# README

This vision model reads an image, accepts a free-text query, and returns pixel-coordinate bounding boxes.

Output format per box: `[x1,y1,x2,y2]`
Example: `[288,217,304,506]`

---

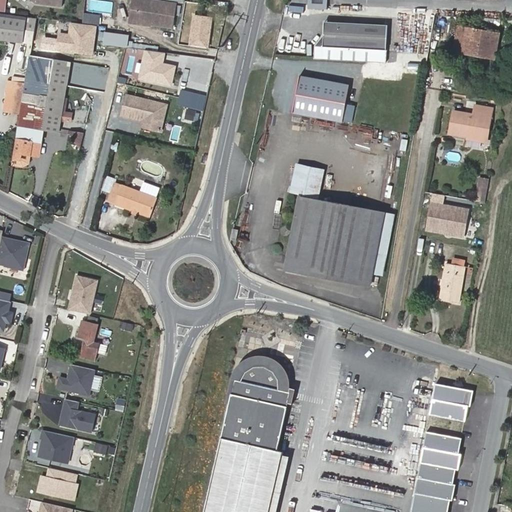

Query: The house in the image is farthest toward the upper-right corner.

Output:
[455,26,500,60]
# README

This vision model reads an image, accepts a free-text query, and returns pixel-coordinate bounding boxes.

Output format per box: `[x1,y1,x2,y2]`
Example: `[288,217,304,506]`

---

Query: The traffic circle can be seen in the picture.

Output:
[166,255,221,310]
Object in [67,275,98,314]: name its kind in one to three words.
house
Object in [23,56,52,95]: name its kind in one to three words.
building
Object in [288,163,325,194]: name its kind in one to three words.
shed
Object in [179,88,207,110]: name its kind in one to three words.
building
